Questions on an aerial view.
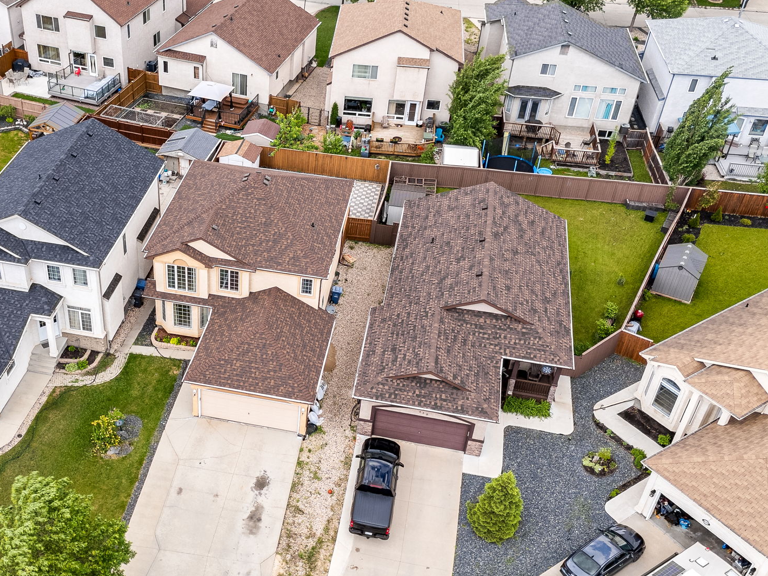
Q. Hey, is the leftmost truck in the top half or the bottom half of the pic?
bottom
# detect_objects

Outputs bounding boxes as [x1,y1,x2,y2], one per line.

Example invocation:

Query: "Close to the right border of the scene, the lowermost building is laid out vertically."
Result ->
[630,286,768,576]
